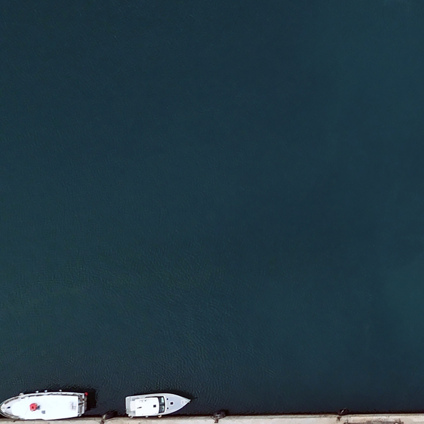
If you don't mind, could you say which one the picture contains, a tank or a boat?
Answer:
boat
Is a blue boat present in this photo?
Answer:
No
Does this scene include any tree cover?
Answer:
No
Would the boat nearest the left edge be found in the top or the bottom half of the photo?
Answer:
bottom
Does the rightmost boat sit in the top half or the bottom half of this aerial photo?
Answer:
bottom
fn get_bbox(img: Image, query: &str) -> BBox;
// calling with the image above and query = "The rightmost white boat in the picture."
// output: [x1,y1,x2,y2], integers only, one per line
[126,393,193,417]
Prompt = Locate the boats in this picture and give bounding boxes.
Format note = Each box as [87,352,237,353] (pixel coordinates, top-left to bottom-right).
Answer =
[0,392,90,422]
[126,393,193,417]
